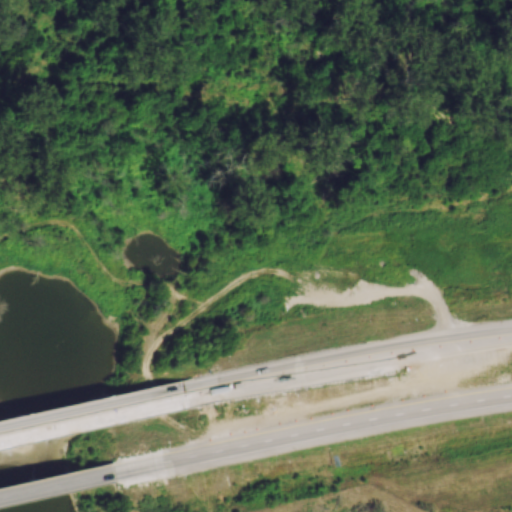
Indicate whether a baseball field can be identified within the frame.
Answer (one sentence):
No, this view has no baseball field in it.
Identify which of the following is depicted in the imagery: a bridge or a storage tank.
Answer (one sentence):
The one in the frame is a bridge.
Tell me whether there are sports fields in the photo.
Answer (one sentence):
No, this view has no sports field in it.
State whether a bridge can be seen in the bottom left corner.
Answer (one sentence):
Yes, looking in the bottom left corner, one can make out a bridge.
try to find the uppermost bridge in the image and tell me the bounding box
[0,380,186,450]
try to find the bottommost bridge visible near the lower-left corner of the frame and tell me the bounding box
[0,462,120,508]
